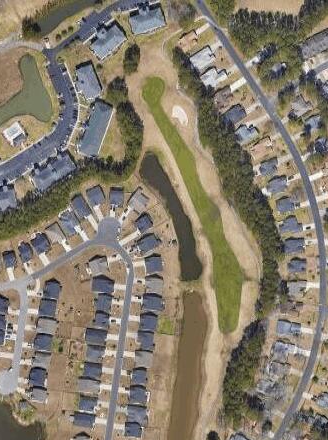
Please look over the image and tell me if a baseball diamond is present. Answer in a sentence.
No, the frame has no baseball diamond in it.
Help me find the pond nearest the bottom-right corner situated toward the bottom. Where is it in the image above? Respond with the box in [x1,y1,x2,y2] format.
[166,291,207,440]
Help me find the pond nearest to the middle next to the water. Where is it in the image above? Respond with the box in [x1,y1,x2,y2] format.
[141,153,203,282]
